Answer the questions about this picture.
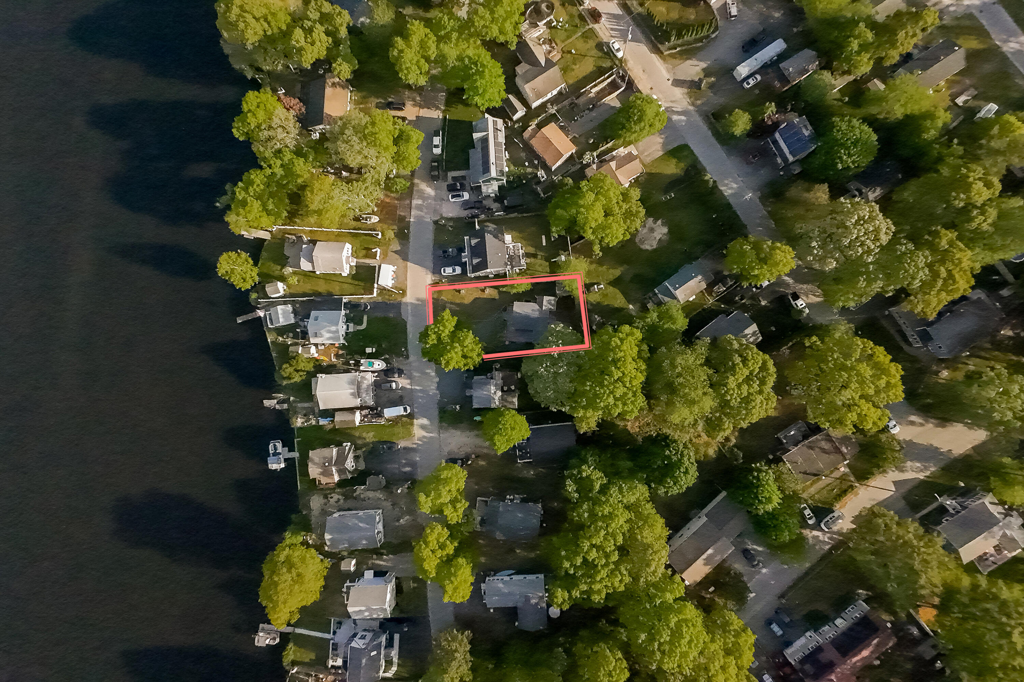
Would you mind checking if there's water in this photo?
Yes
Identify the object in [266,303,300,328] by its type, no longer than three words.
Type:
building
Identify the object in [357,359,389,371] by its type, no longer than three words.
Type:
boat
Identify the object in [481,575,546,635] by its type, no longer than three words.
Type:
house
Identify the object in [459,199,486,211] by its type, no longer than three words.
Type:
vehicle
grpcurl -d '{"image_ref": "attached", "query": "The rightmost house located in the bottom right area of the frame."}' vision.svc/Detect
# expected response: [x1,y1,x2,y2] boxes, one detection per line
[924,492,1024,573]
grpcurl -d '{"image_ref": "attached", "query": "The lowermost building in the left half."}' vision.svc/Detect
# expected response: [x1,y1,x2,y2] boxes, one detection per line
[327,618,400,682]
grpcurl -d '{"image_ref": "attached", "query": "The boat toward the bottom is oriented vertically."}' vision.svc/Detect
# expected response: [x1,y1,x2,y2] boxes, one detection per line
[269,440,283,472]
